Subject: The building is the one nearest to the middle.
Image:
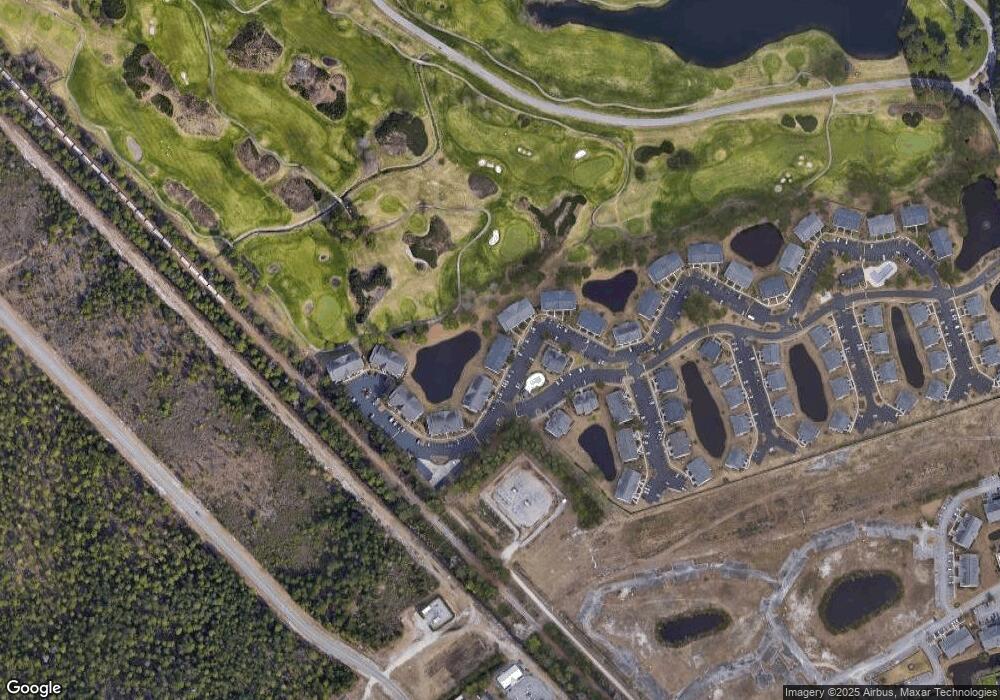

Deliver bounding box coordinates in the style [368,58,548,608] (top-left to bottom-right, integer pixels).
[484,333,519,373]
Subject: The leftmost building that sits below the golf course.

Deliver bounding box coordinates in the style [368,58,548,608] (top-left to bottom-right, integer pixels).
[326,350,365,384]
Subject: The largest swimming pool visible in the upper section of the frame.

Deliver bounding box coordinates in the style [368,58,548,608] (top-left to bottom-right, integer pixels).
[863,260,897,288]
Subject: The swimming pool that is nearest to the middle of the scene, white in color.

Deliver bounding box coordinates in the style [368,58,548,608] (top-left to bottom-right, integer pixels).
[526,372,545,392]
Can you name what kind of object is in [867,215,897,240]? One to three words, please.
building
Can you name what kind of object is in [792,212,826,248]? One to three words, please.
building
